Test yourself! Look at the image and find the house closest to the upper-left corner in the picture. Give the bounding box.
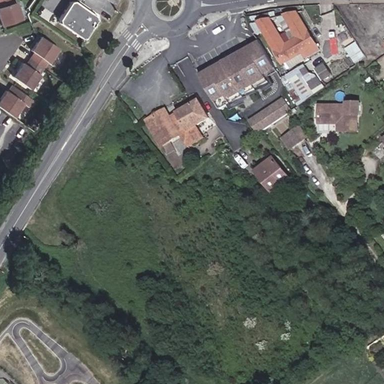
[0,0,26,28]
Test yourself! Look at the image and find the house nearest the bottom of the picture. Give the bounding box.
[252,154,288,192]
